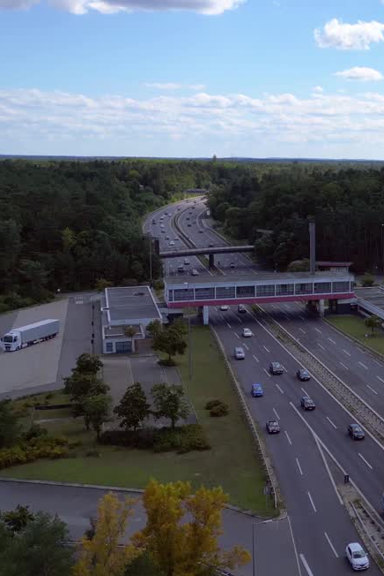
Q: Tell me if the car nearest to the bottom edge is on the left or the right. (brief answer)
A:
right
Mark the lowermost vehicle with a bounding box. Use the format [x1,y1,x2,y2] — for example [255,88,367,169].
[345,542,372,569]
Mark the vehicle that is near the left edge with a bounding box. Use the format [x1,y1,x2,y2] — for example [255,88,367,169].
[3,319,68,350]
